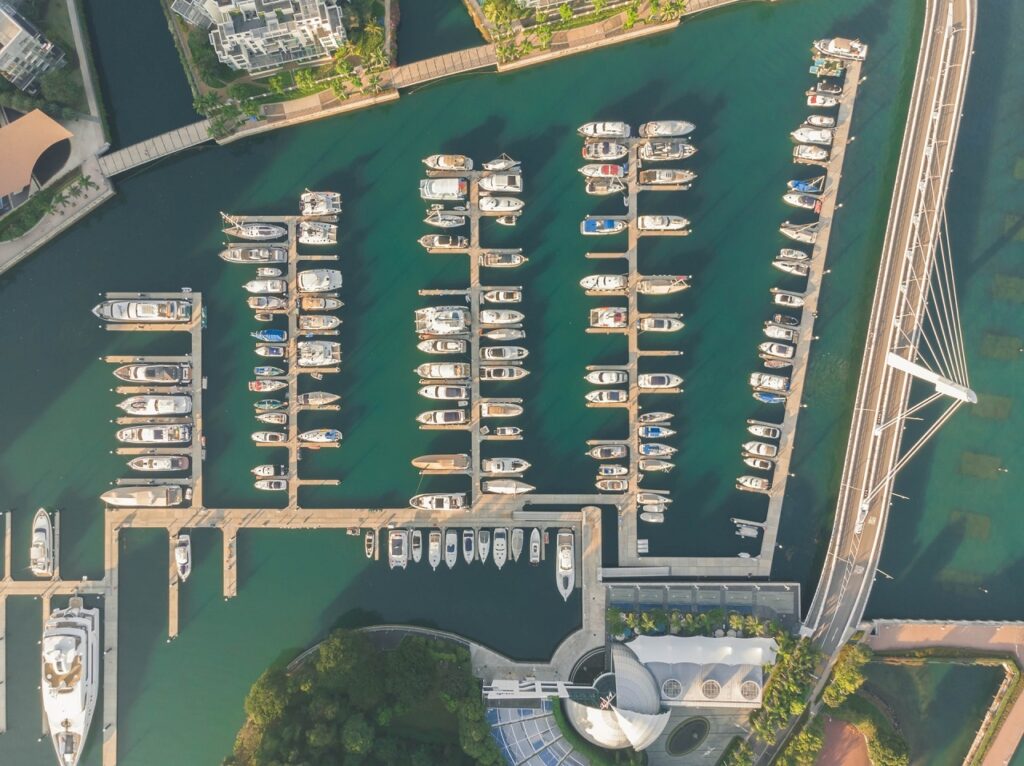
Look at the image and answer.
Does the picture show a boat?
Yes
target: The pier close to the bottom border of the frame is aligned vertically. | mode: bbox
[0,511,105,735]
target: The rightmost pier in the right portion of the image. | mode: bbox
[730,60,862,557]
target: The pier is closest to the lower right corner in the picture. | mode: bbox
[603,557,773,577]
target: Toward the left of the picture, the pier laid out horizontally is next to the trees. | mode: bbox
[105,493,637,766]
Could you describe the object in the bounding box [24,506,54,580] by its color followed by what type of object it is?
white boat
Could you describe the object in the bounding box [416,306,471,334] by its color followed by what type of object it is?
white boat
